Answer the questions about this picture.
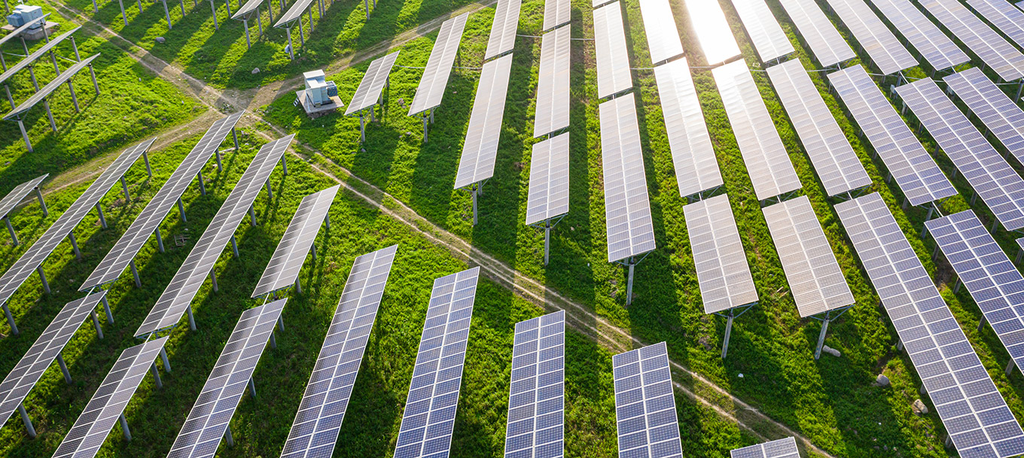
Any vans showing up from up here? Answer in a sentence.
No, the frame has no van in it.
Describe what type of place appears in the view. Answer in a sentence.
What you see here is a solar farm.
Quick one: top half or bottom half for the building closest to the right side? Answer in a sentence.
Seen from above, the building closest to the right side lies in the top half of the view.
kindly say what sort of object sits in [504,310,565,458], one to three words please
solar array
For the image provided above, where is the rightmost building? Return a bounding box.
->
[295,67,344,116]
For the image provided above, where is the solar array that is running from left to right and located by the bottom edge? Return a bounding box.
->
[730,437,800,458]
